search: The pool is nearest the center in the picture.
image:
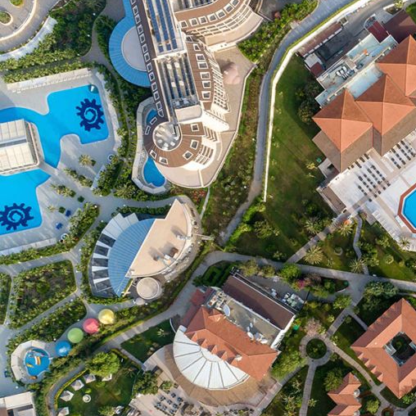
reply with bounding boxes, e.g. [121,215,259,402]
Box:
[142,155,166,188]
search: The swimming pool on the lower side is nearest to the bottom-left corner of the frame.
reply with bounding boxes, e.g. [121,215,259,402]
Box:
[23,346,52,376]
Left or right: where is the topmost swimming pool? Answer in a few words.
left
